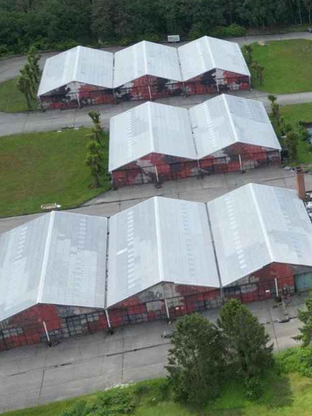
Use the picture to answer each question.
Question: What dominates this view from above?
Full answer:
The scene is dominated by buildings.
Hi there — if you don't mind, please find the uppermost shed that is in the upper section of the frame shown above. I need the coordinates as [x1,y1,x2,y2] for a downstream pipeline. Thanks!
[36,35,253,112]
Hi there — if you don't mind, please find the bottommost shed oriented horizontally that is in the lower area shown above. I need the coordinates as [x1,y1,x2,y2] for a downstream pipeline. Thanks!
[0,181,312,350]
